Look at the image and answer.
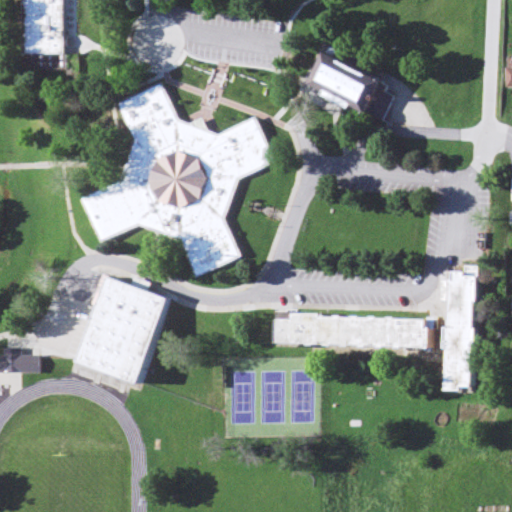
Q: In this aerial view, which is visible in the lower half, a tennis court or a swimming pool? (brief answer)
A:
tennis court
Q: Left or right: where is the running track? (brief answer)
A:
left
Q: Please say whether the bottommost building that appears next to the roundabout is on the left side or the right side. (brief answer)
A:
left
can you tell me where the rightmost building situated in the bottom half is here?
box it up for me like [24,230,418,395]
[440,265,482,393]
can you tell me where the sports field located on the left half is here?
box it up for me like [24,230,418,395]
[0,396,131,512]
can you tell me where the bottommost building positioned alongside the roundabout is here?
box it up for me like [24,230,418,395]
[81,85,270,276]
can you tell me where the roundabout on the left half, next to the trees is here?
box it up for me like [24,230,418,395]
[128,14,186,72]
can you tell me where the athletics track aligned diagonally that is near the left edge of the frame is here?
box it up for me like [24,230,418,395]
[0,378,148,512]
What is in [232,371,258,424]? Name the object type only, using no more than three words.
tennis court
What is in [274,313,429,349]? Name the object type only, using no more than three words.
building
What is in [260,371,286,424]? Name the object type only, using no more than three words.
tennis court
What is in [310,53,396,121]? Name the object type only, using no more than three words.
house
